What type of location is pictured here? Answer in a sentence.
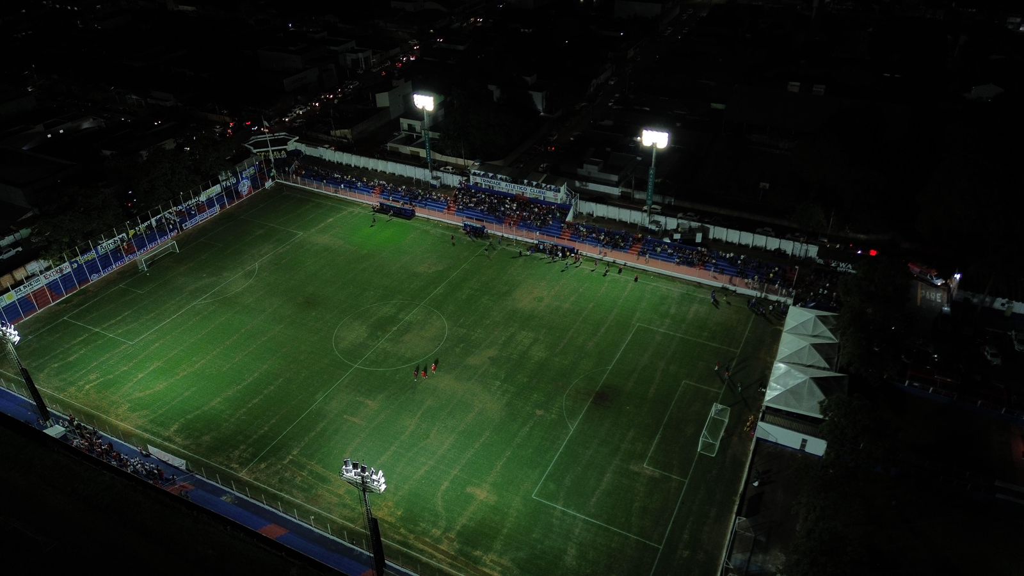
What you see here is a sports ground.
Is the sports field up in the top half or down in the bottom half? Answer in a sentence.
Seen from above, the sports field lies in the bottom half of the view.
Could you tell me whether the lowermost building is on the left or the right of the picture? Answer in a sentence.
It is on the right.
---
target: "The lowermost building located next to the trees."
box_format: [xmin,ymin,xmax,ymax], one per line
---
[757,405,832,459]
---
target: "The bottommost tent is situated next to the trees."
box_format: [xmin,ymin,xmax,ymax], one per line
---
[766,361,845,439]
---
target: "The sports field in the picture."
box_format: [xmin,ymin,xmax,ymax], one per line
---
[0,180,797,576]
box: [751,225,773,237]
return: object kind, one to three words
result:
vehicle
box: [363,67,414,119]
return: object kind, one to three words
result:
house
